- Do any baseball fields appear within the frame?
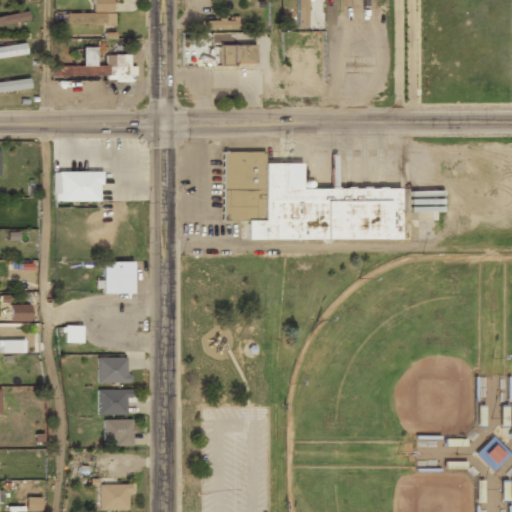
Yes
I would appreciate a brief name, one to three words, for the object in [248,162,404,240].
building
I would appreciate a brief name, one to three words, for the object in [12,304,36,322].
house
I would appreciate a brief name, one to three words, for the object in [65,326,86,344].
building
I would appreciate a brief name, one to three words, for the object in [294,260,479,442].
baseball field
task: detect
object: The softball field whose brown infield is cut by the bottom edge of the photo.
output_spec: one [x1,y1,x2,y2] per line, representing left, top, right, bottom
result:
[294,468,478,512]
